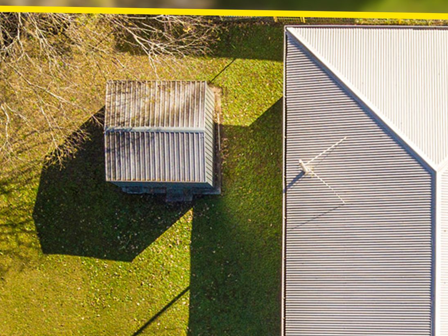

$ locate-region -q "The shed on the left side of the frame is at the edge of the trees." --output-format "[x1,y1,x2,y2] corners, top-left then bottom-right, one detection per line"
[103,78,222,203]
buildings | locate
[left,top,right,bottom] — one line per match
[103,78,222,203]
[282,25,448,336]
